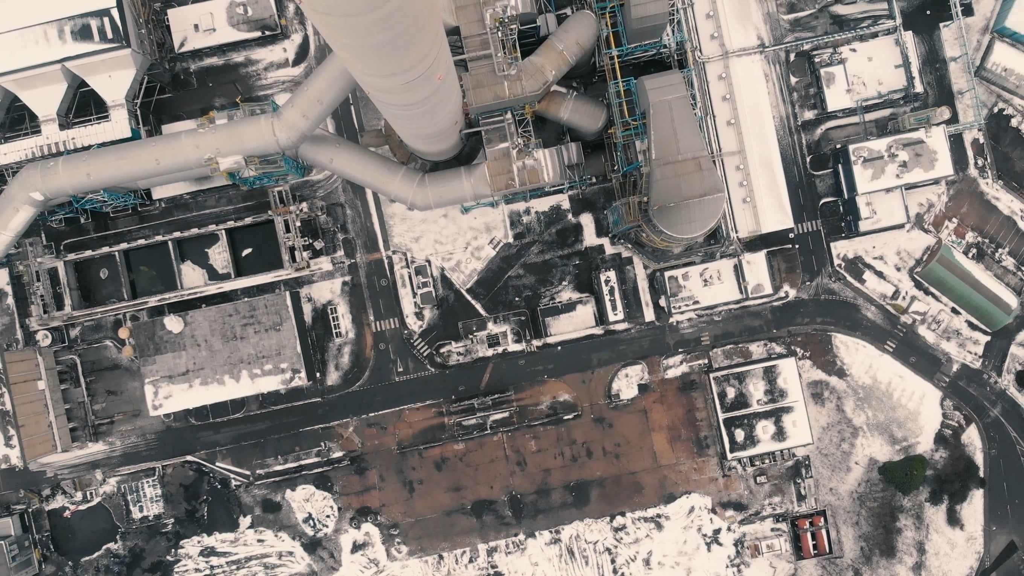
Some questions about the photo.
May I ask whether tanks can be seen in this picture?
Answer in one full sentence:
Yes, the frame does contain a tank.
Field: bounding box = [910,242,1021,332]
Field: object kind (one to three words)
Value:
building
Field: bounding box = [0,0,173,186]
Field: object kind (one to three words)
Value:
house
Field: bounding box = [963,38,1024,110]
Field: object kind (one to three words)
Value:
shed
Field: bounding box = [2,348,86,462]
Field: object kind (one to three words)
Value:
shed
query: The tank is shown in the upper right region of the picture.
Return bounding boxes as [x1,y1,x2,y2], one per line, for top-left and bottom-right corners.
[782,56,812,84]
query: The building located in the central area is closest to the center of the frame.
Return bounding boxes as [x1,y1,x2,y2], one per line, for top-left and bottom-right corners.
[598,268,624,322]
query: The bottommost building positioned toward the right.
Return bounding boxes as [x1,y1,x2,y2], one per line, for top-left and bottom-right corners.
[746,534,790,558]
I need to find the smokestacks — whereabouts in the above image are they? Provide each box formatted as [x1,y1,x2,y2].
[295,0,475,168]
